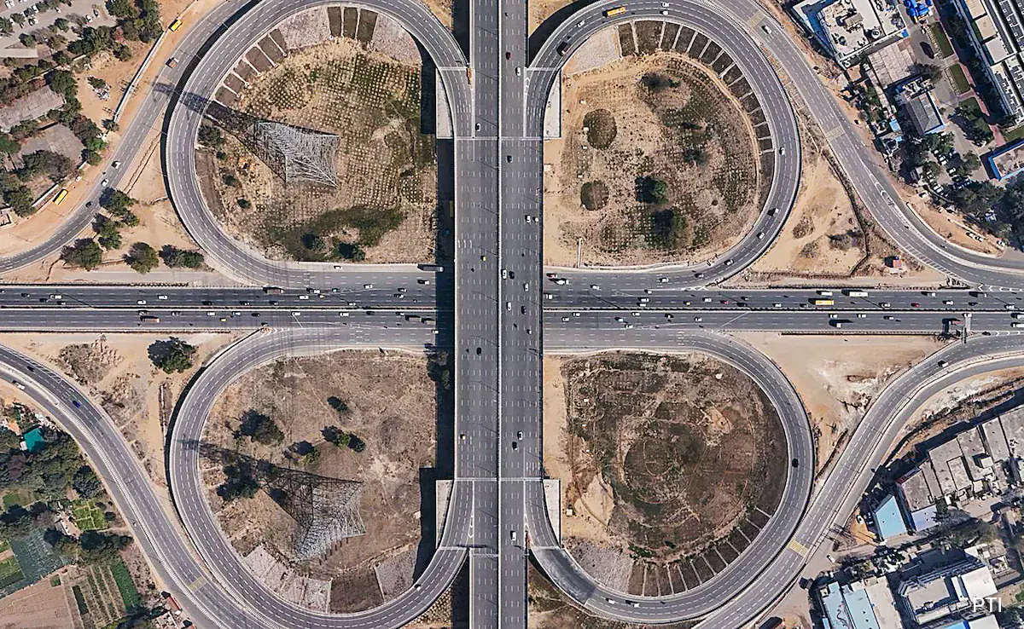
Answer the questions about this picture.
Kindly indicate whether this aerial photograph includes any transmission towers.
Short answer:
Yes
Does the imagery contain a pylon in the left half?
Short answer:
Yes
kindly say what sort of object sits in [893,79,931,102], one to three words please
building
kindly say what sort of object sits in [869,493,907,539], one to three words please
shed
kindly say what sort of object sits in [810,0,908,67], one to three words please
building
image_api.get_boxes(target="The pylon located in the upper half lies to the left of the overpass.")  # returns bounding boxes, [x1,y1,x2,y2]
[252,117,339,186]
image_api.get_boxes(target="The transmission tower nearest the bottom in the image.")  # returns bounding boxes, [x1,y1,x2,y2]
[282,481,365,560]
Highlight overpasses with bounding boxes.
[436,0,561,629]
